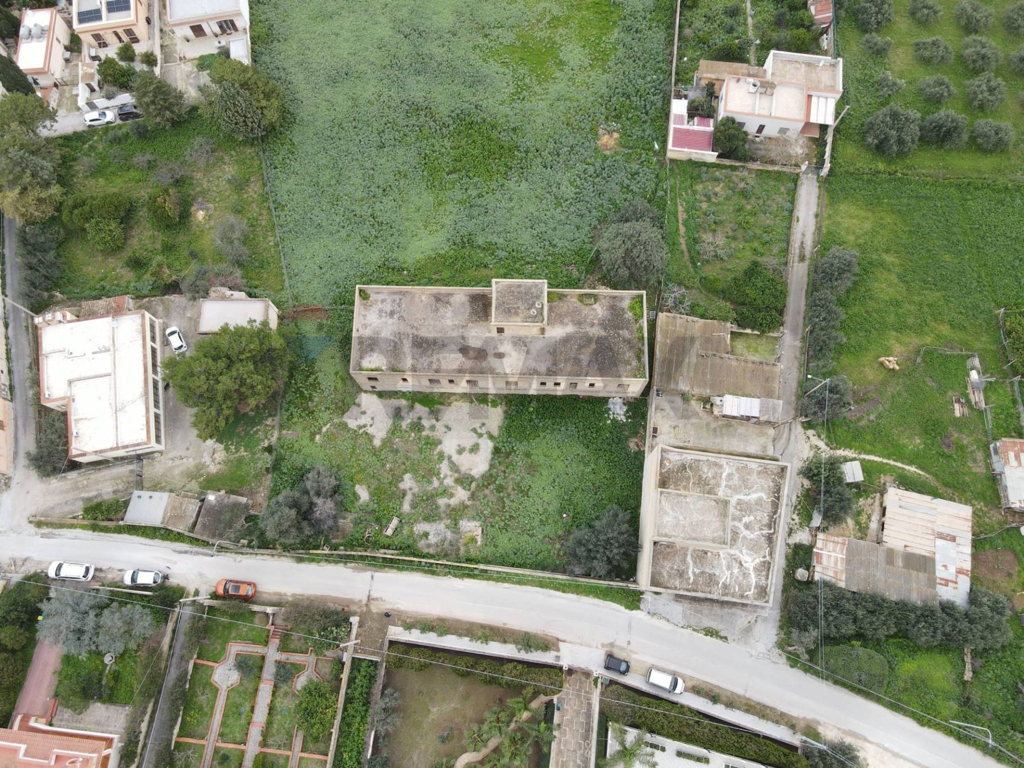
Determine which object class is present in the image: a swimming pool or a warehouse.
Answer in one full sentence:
I can see a warehouse in this picture.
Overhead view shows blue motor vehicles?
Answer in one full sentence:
No, this view has no blue motor vehicle in it.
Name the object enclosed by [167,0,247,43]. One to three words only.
house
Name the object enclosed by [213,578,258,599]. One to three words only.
car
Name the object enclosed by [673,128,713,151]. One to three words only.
shed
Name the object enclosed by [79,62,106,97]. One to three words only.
building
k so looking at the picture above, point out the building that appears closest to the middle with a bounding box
[350,279,649,397]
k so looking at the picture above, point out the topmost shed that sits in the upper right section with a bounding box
[801,0,832,35]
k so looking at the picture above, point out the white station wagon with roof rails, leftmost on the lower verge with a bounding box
[46,559,97,581]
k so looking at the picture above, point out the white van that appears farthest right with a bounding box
[646,667,686,695]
